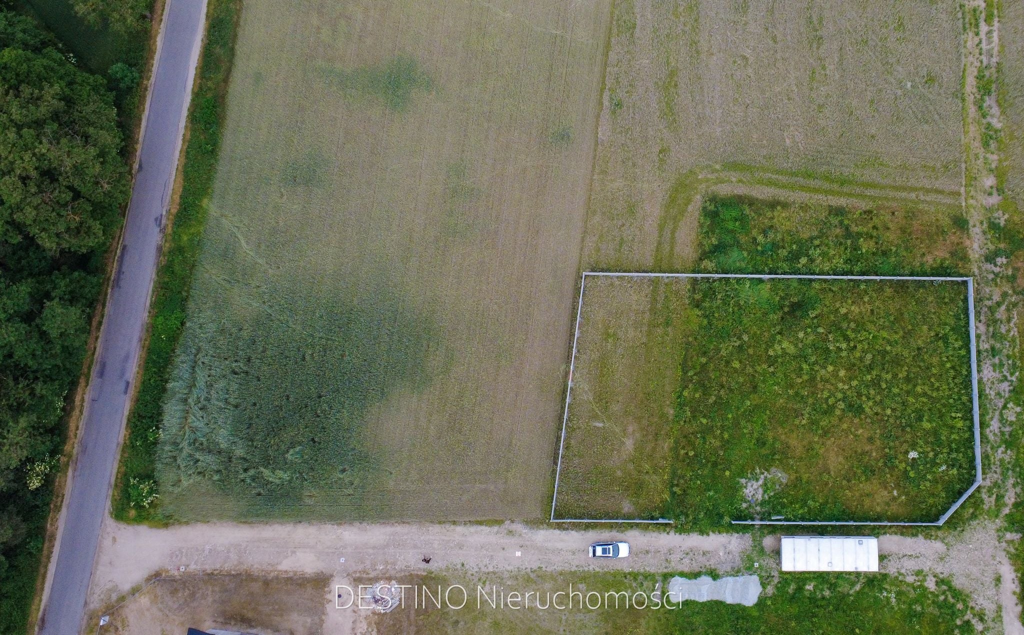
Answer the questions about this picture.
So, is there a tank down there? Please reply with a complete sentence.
No, the scene contains no tank.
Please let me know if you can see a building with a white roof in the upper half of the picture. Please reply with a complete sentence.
No, looking in the upper half of the picture, there is no building with a white roof.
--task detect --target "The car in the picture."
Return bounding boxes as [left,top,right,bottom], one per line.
[589,542,630,560]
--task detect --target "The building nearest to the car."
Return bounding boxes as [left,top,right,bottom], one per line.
[781,538,879,572]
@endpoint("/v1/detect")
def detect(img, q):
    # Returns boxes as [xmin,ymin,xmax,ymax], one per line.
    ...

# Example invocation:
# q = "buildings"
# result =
[185,627,227,635]
[781,538,879,572]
